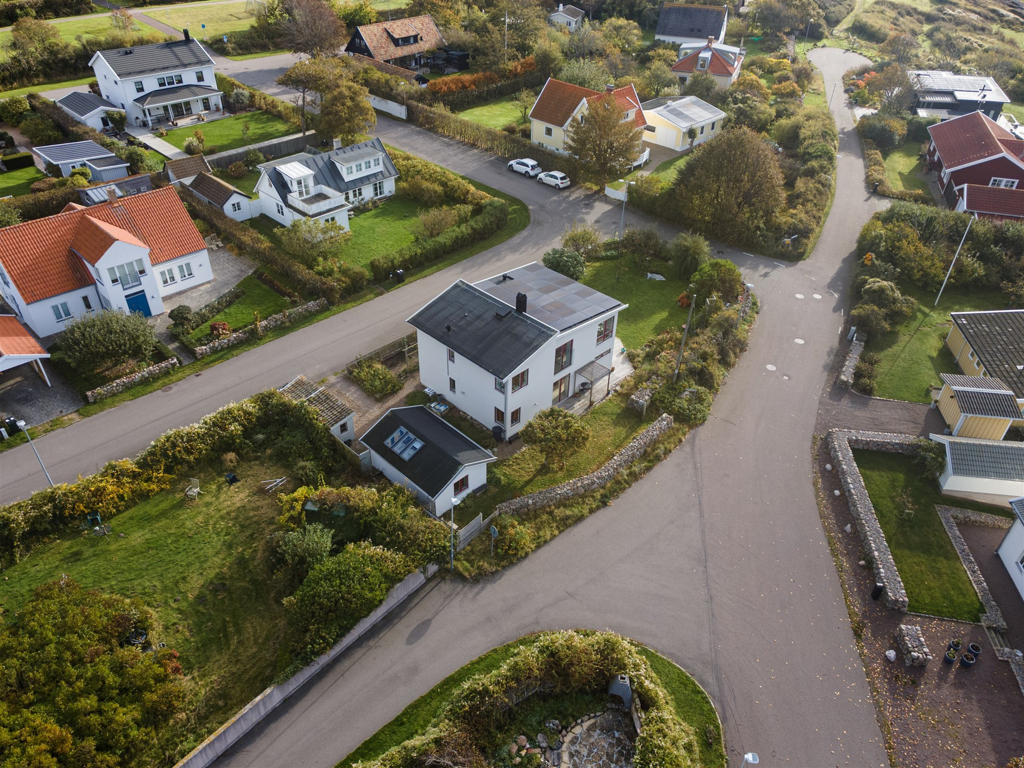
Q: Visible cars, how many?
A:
two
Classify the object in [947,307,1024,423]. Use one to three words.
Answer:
house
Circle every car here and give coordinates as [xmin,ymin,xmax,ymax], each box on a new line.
[507,155,543,177]
[537,169,573,189]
